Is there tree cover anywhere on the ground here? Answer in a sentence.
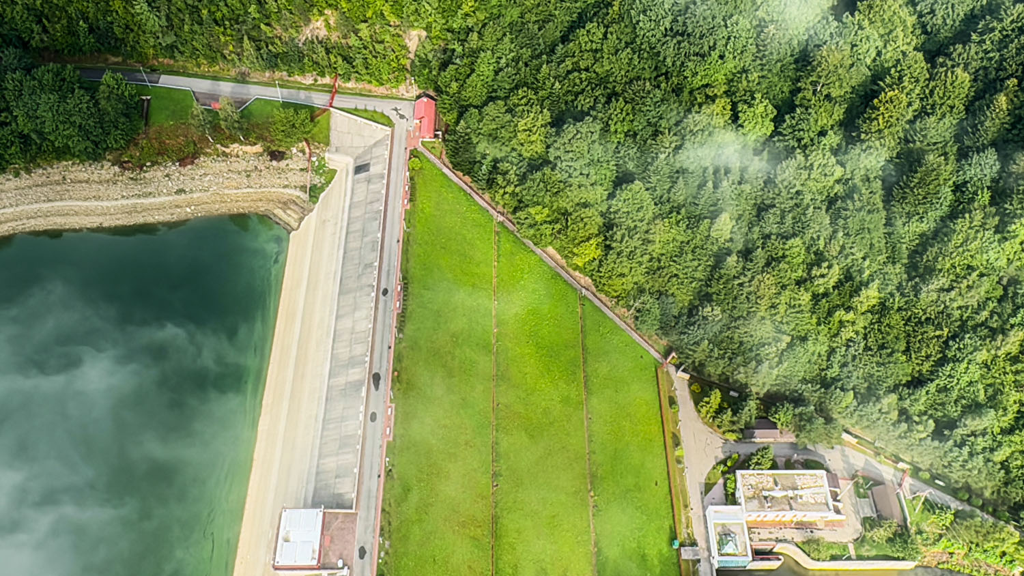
Yes, some tree cover is visible.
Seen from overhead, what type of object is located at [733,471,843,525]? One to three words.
building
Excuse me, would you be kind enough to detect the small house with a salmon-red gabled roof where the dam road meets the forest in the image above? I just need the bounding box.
[414,97,435,143]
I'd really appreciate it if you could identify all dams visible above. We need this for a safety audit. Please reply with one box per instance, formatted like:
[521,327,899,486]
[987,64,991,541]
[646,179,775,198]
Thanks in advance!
[236,107,683,576]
